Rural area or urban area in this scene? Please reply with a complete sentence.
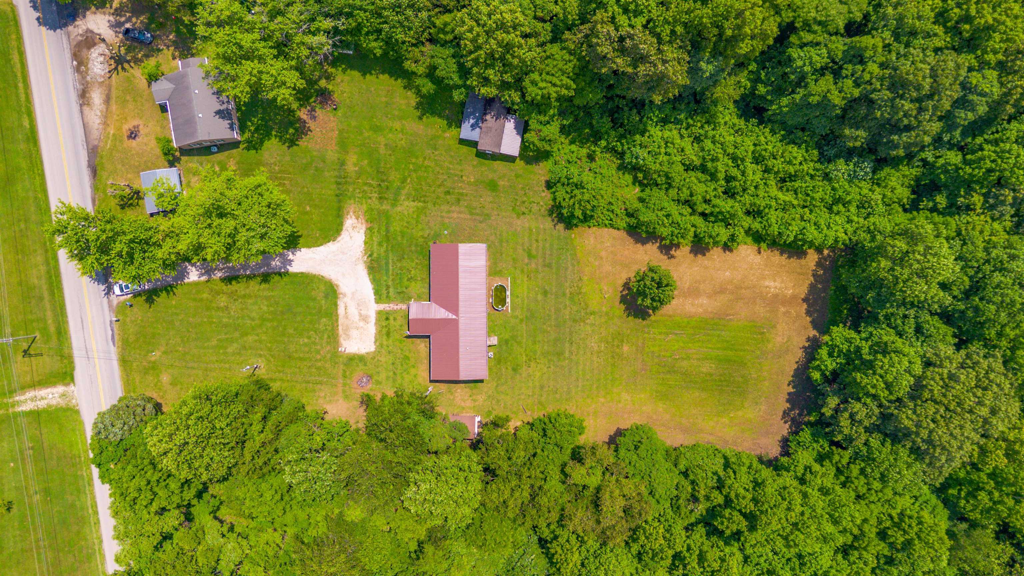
This place is rural.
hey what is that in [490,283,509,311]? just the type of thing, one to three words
swimming pool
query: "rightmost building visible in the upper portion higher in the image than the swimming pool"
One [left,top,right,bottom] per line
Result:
[460,93,523,158]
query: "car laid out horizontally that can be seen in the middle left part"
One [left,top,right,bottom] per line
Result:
[112,279,145,296]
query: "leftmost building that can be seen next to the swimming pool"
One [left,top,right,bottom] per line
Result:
[408,242,487,382]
